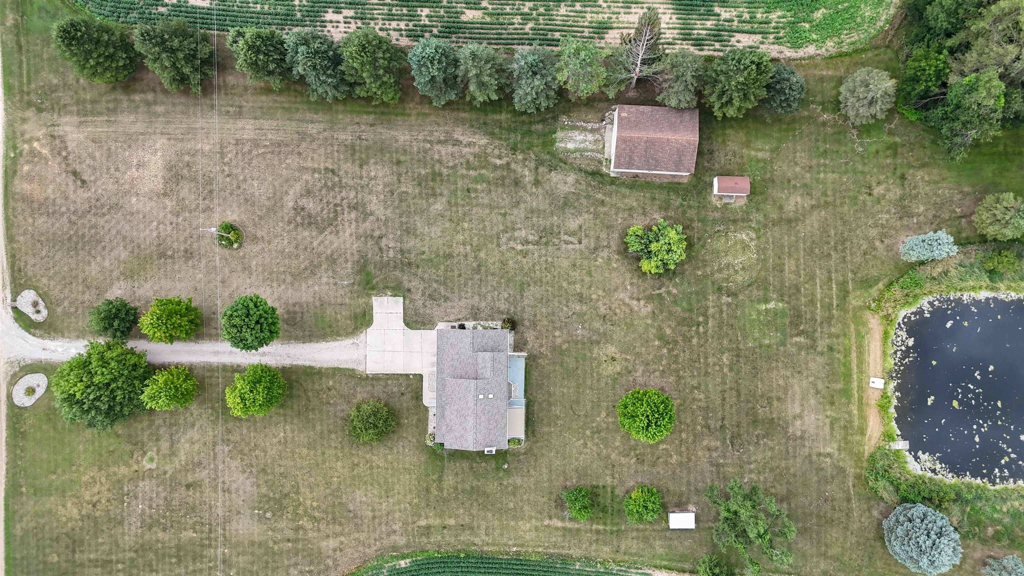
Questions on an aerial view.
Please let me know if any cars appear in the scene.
No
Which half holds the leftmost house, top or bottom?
bottom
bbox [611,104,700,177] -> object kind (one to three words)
barn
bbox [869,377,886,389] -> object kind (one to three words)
boat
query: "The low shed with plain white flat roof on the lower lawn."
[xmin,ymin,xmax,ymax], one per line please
[667,507,694,528]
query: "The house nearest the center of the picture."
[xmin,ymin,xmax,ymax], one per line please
[435,329,512,454]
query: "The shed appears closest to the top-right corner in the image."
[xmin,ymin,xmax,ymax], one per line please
[713,176,751,196]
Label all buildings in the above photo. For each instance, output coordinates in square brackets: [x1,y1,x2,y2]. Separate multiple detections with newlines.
[435,329,512,454]
[667,507,694,528]
[611,104,700,177]
[713,176,751,196]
